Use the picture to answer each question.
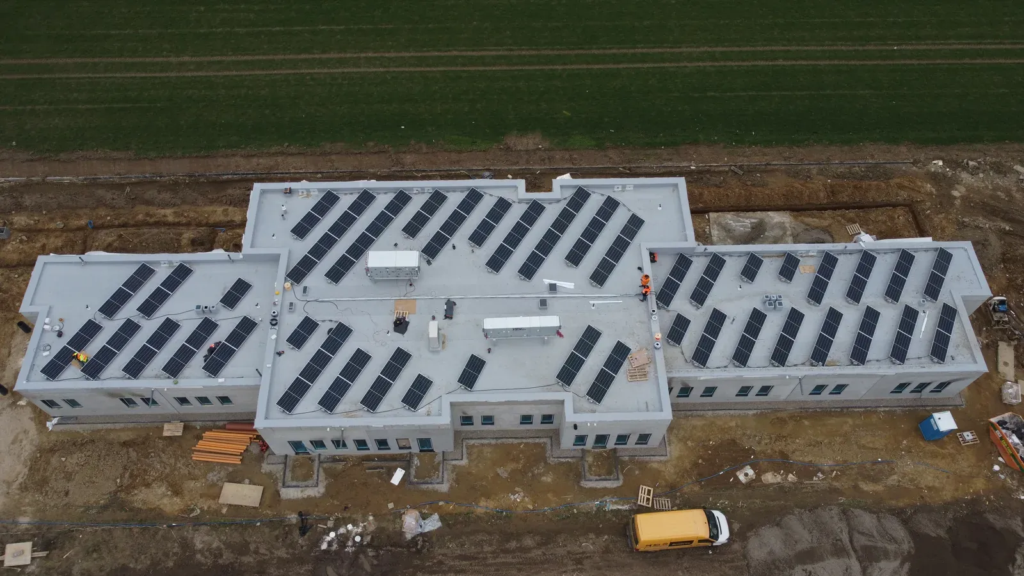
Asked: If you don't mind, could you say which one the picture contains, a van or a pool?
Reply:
van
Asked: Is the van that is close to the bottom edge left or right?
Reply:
right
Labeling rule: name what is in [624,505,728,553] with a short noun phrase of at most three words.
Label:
van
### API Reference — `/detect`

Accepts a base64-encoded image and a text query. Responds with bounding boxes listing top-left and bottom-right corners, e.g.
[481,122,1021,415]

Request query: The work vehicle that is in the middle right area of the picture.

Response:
[991,295,1024,331]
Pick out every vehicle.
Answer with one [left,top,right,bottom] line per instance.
[624,505,728,553]
[991,295,1024,331]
